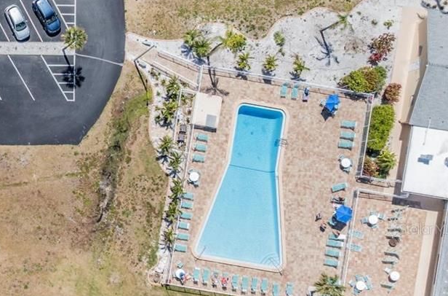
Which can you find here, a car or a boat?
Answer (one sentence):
There is a car in the scene.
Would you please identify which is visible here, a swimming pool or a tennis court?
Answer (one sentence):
It is a swimming pool that can be seen here.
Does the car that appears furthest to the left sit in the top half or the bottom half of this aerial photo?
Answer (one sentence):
The top half of the photo is where the car that appears furthest to the left is.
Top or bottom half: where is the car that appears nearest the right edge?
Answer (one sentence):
You can find the car that appears nearest the right edge in the top half.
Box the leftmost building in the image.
[186,93,221,130]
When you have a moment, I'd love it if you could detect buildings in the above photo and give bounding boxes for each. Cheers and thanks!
[389,9,448,296]
[186,93,221,130]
